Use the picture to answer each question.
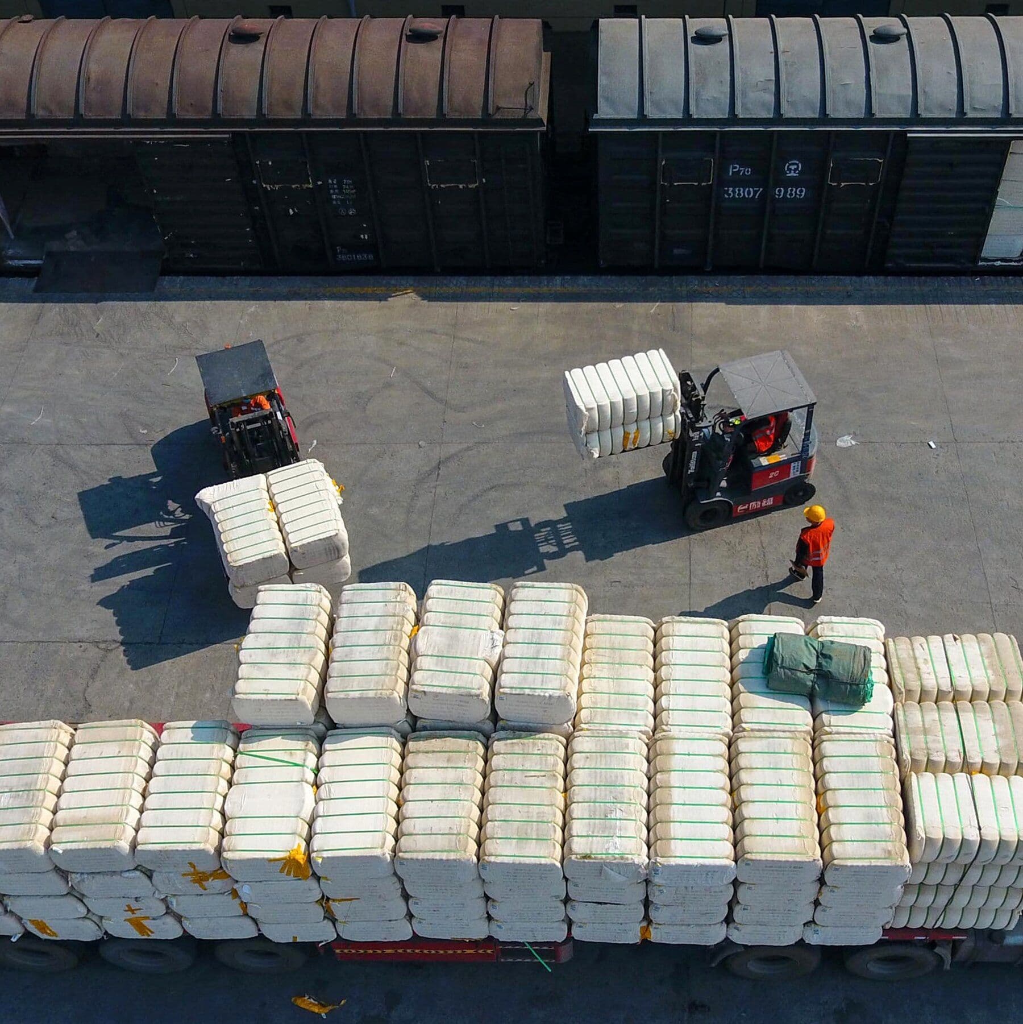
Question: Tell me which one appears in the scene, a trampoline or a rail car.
rail car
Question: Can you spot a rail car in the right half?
Yes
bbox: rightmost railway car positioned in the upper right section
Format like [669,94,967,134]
[578,10,1023,276]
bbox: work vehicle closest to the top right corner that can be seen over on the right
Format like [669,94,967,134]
[661,346,823,530]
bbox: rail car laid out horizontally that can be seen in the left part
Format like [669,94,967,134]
[0,8,597,276]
